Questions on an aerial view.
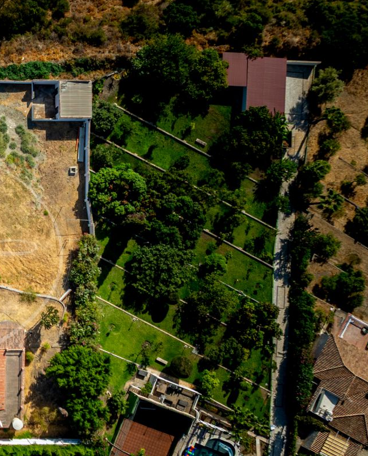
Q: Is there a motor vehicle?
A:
No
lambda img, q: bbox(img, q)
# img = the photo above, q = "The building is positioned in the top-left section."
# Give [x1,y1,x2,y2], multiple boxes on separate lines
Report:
[28,81,93,125]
